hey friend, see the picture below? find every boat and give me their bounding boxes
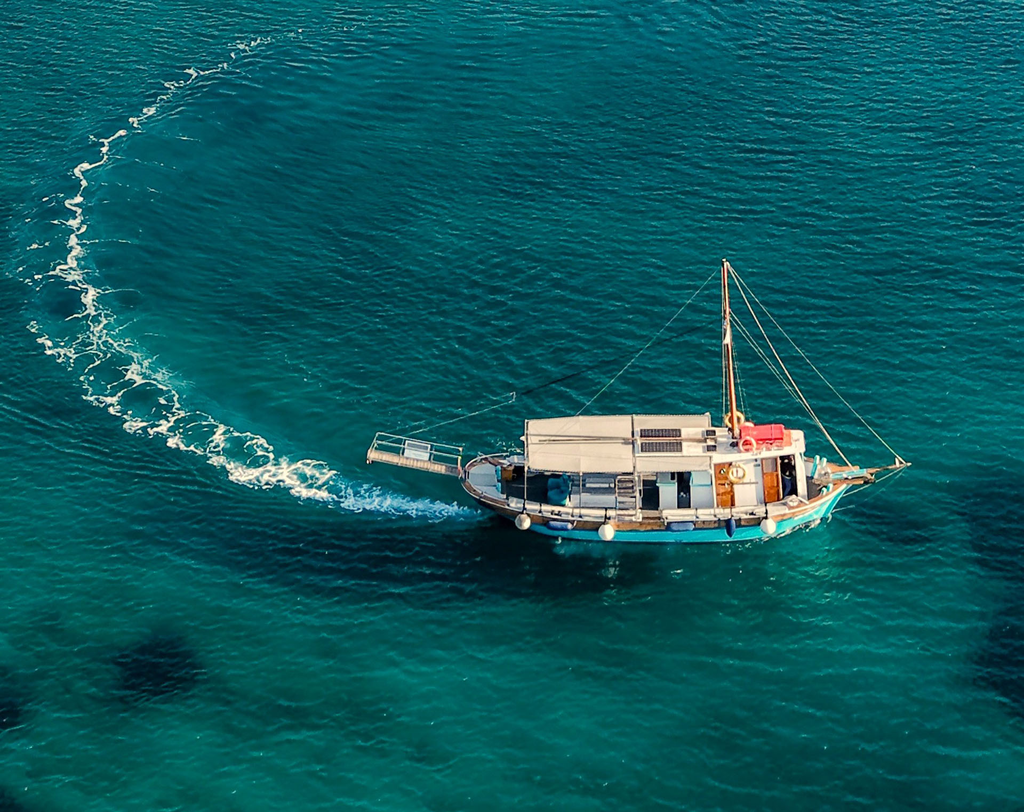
[460,259,911,543]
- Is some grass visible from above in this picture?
No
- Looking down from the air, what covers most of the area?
water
